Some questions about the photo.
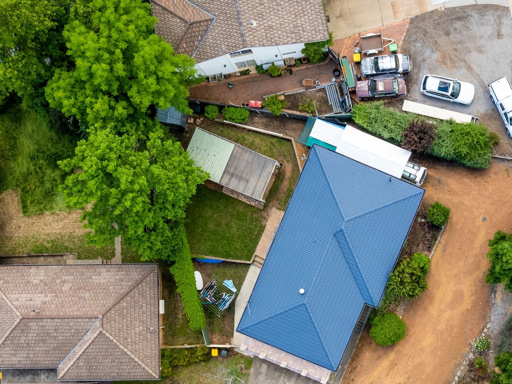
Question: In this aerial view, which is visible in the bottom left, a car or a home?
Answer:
home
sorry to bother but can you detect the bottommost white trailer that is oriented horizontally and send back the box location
[404,95,479,122]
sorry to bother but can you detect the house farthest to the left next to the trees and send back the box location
[0,262,170,384]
